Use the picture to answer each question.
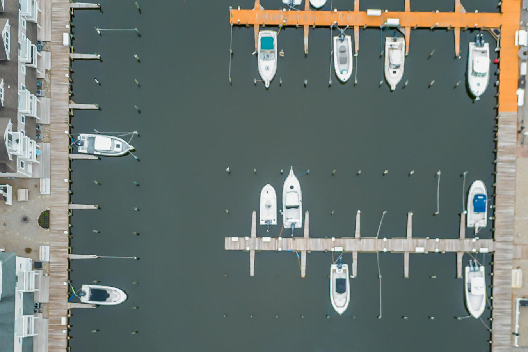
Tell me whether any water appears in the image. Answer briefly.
Yes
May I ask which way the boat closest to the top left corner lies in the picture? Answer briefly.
from side to side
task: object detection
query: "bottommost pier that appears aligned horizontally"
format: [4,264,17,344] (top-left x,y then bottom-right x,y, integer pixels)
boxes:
[225,210,496,279]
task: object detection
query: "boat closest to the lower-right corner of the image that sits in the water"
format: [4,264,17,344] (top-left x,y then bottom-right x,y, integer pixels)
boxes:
[464,259,486,319]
